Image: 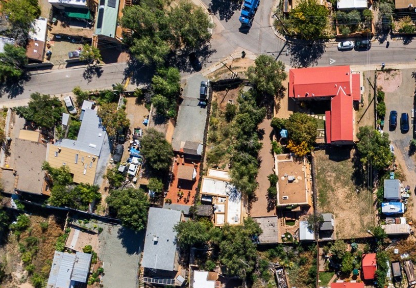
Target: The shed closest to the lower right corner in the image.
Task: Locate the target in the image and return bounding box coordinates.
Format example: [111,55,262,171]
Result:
[363,254,378,279]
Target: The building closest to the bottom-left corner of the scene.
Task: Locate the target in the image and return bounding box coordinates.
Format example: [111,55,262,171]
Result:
[48,251,96,288]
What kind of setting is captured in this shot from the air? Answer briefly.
residential area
